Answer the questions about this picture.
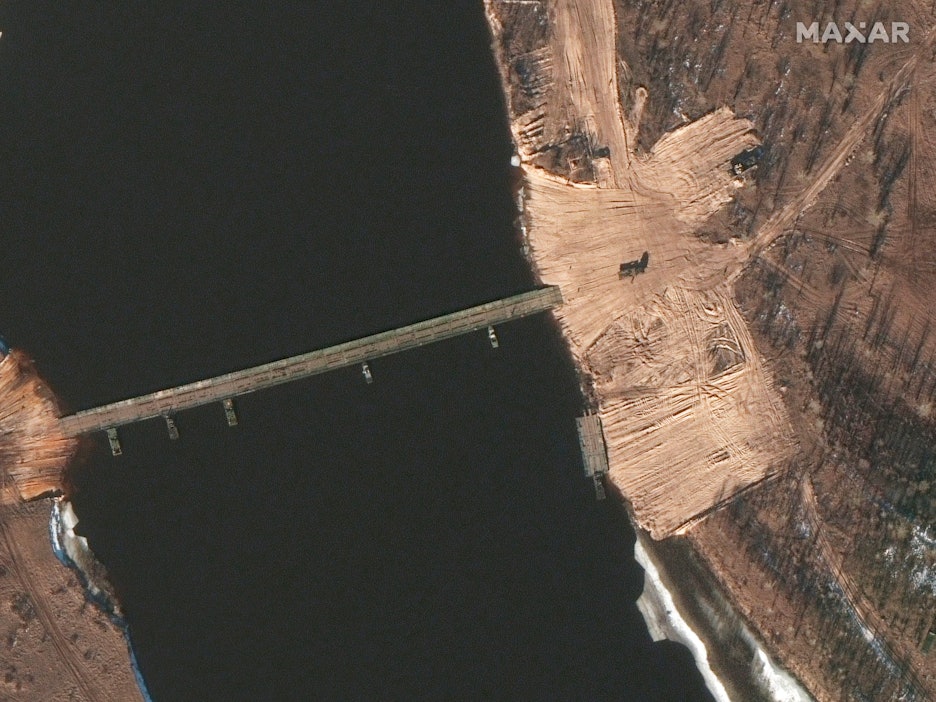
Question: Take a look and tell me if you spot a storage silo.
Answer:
No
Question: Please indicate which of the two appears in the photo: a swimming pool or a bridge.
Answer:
bridge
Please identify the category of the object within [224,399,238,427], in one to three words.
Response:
boat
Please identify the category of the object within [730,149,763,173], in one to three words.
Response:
truck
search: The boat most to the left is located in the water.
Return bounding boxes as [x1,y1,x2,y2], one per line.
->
[106,428,121,456]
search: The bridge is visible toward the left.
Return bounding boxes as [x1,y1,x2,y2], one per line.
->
[56,284,569,437]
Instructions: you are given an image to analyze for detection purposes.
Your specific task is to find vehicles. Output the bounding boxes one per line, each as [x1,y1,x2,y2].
[730,149,763,173]
[617,265,645,282]
[596,152,610,158]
